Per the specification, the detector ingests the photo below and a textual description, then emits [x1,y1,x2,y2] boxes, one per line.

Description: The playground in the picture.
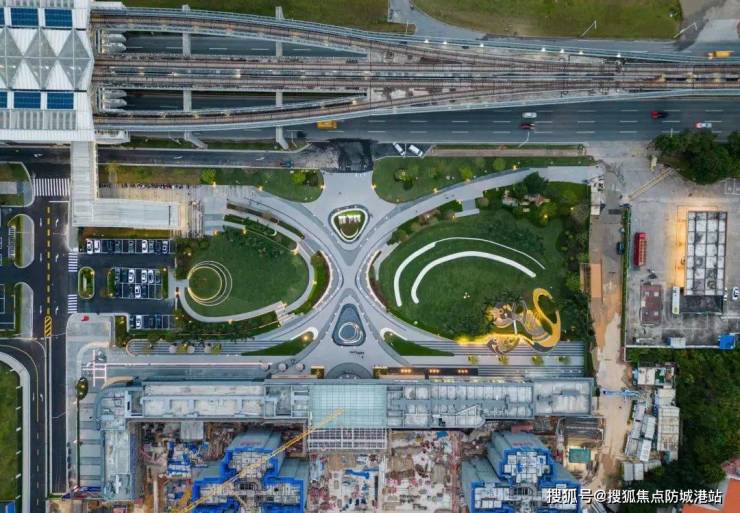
[454,288,561,354]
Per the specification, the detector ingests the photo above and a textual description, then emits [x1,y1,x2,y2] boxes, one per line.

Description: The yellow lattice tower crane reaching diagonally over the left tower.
[166,408,344,513]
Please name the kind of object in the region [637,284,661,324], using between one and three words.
shed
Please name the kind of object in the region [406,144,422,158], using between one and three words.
vehicle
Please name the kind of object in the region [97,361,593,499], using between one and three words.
building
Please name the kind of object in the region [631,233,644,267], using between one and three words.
vehicle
